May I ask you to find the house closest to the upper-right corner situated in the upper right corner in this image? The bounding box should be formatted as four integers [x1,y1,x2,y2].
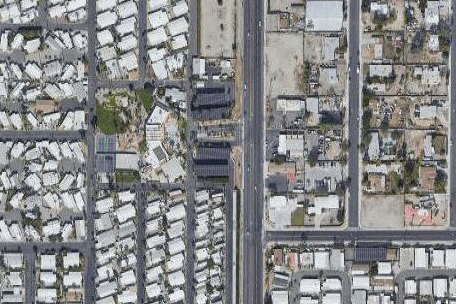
[425,0,439,28]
